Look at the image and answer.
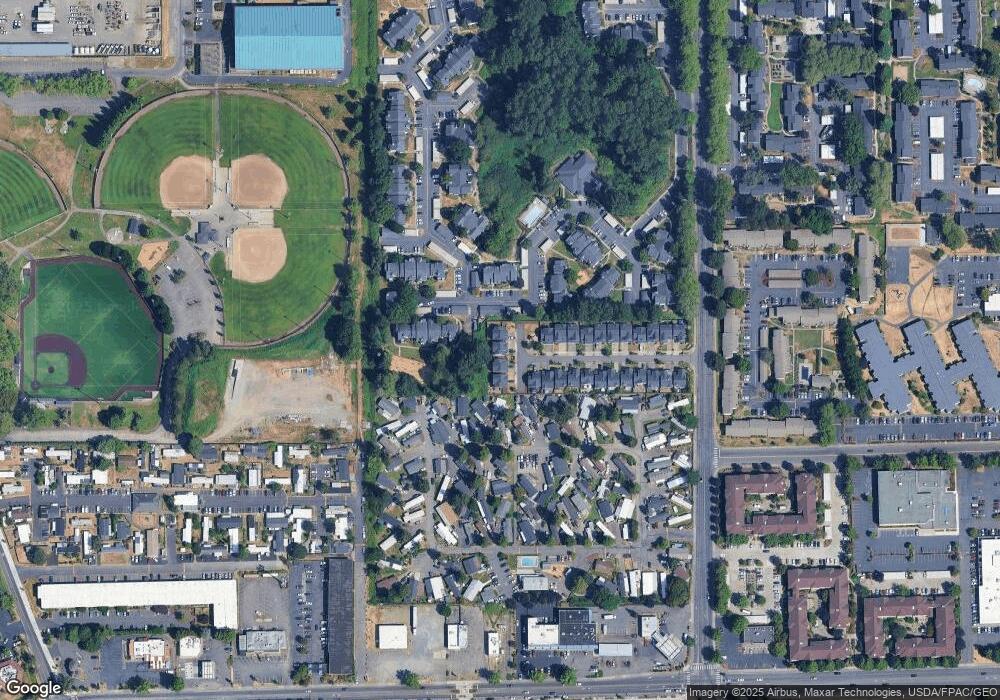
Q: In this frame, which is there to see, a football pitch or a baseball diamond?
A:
baseball diamond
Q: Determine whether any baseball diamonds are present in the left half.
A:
Yes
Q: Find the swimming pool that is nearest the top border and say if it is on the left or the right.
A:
right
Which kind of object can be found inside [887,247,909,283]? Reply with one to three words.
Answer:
basketball court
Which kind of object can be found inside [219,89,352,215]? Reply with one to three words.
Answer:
baseball field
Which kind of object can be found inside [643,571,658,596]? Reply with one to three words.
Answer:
house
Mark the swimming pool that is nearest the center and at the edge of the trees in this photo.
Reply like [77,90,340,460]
[519,197,549,227]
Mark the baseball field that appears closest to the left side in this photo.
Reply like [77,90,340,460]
[0,136,67,243]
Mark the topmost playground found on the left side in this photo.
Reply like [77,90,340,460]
[139,241,169,269]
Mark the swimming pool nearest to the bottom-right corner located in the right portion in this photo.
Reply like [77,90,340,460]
[799,363,812,384]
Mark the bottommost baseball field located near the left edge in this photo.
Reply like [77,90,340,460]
[18,256,162,403]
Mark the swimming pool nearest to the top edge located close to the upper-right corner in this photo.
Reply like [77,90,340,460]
[963,73,986,96]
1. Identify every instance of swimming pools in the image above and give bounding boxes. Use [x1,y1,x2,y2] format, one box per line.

[519,197,549,227]
[517,556,538,567]
[799,363,812,384]
[963,73,986,96]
